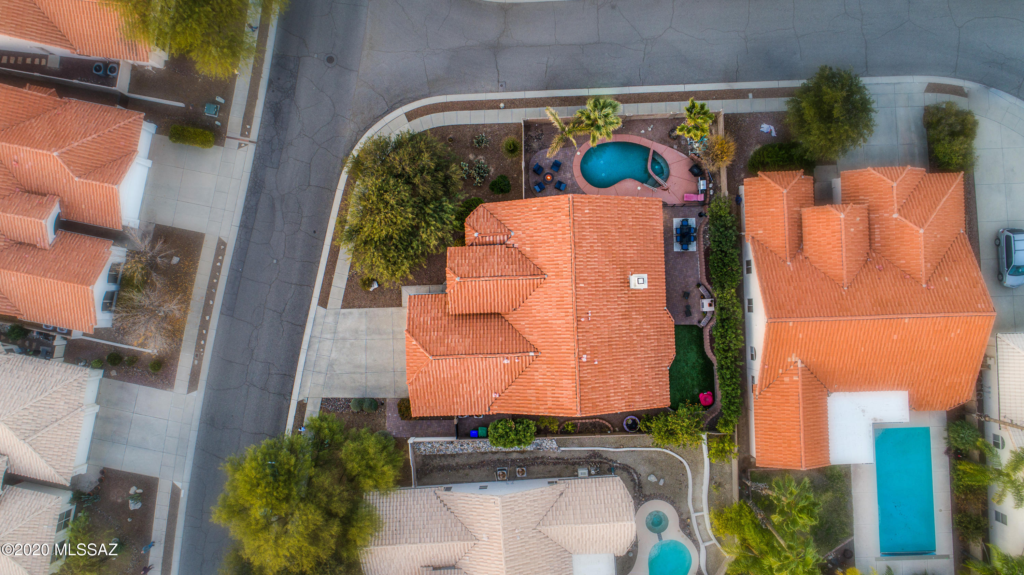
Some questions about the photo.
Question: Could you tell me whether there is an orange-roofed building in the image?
Yes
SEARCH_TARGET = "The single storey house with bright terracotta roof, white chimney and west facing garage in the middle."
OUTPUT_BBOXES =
[404,193,678,418]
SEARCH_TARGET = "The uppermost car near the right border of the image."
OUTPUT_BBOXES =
[994,230,1024,286]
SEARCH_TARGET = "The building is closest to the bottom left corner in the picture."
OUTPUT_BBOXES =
[0,355,117,575]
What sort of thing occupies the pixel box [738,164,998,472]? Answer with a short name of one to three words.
house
